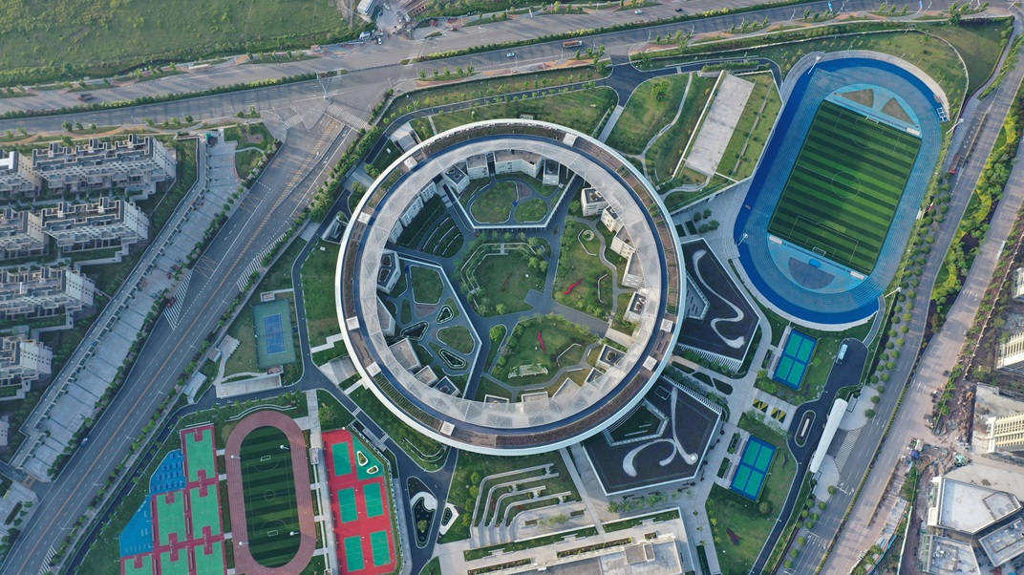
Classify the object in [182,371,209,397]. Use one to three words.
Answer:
shed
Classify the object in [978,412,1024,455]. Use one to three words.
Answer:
building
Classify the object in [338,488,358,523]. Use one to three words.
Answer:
sports court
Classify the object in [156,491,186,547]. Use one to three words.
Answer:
basketball court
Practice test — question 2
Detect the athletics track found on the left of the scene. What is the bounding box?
[223,409,318,575]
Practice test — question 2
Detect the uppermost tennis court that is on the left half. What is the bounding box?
[255,299,296,368]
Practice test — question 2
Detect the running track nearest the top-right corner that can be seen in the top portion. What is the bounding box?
[729,50,950,331]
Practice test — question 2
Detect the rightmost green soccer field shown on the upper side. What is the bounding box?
[765,97,924,278]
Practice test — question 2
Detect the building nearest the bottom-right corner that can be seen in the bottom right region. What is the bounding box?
[969,518,1024,566]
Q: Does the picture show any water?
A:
No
